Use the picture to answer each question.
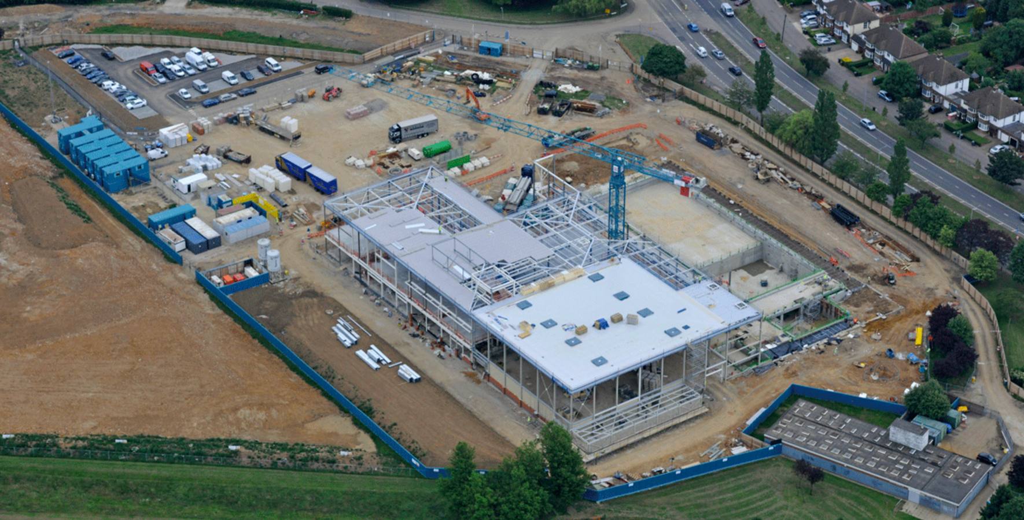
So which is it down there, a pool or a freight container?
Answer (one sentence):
The one in the frame is a freight container.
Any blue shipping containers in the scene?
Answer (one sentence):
Yes, a blue shipping container appears in the view.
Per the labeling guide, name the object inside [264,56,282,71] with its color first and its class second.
white vehicle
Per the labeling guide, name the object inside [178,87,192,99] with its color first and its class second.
white vehicle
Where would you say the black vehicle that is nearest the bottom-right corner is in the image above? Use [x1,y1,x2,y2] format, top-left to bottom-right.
[975,450,999,467]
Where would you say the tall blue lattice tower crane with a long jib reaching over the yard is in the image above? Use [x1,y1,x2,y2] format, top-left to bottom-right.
[326,64,706,241]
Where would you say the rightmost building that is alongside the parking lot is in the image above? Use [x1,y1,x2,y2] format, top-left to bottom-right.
[318,153,769,462]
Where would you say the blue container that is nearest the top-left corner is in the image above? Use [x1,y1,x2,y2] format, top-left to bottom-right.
[144,202,196,230]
